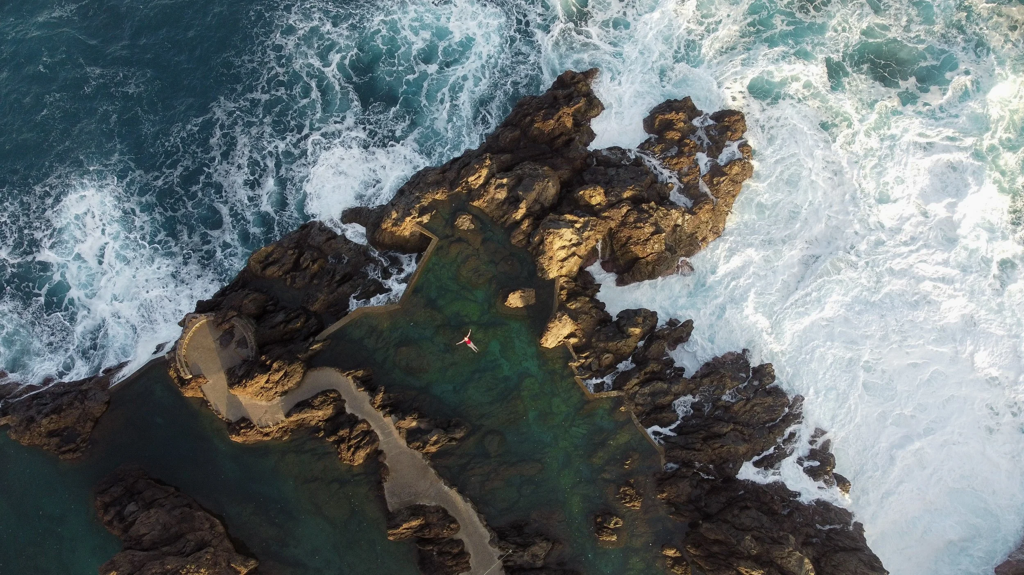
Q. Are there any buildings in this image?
No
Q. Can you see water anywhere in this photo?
Yes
